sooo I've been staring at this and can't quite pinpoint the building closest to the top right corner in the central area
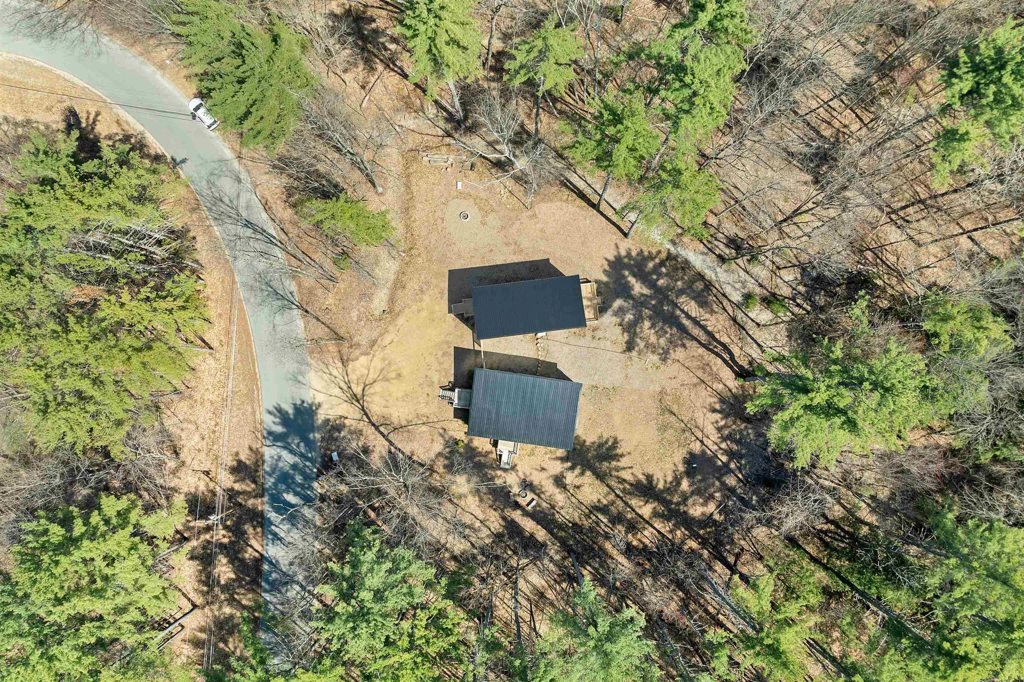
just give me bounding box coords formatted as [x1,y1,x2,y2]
[452,274,605,340]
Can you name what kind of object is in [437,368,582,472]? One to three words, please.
building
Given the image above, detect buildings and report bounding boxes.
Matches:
[452,274,605,340]
[437,368,582,472]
